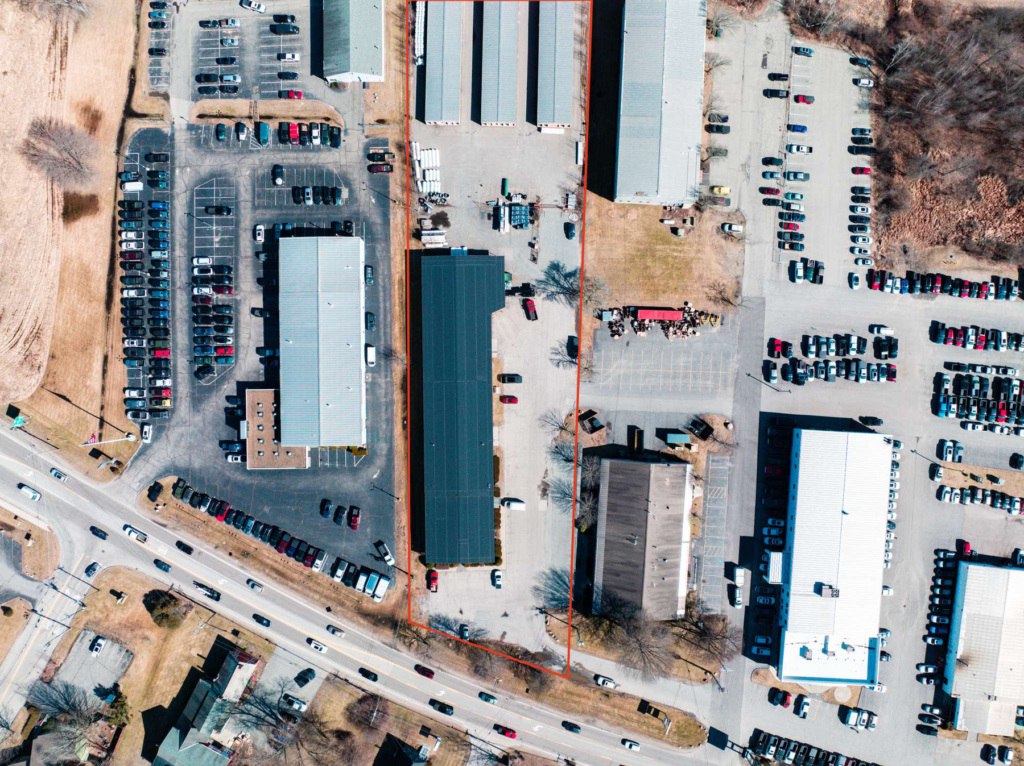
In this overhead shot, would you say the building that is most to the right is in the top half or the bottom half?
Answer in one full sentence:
It is in the bottom half that the building that is most to the right appears.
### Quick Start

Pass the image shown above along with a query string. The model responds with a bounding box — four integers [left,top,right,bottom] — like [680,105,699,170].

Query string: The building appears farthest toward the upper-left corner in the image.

[323,0,385,87]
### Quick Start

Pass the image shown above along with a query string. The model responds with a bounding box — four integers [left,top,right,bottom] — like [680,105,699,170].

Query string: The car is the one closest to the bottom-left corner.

[90,637,105,656]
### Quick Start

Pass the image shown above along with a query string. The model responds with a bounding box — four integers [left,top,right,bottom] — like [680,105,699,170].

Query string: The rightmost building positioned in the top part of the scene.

[614,0,707,204]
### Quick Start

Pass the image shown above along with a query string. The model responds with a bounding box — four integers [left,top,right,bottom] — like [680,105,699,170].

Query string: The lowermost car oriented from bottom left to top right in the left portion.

[296,670,315,685]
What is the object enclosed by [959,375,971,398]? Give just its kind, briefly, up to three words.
vehicle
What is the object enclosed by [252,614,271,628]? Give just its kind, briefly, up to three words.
car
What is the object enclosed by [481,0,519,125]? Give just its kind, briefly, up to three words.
shed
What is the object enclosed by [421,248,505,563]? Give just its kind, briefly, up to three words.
building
